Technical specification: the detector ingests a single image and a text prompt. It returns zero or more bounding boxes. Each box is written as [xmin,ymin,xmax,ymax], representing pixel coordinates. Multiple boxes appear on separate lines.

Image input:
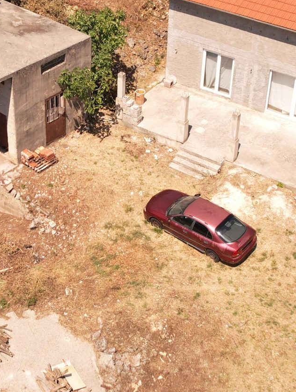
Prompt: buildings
[0,0,92,165]
[166,0,296,122]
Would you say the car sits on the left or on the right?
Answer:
right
